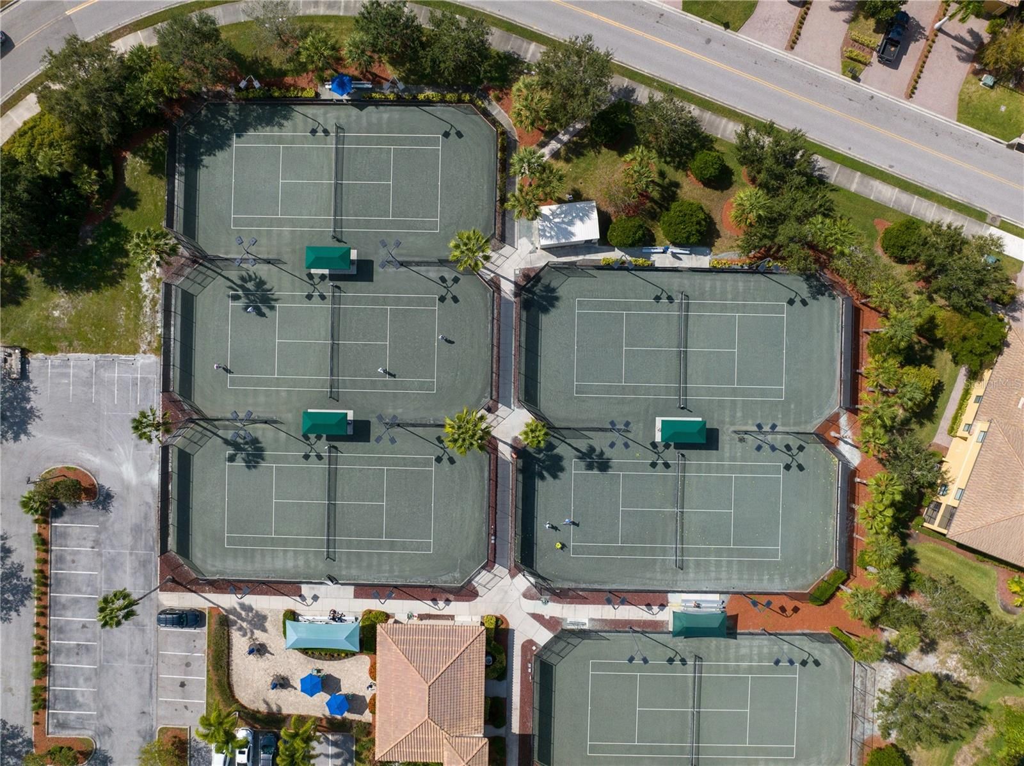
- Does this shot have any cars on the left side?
Yes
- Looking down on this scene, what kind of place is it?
sports ground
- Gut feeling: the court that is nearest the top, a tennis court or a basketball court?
tennis court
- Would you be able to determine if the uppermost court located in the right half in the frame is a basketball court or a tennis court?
tennis court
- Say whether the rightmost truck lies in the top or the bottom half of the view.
top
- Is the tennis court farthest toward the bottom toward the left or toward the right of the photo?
right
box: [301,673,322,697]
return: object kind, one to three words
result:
umbrella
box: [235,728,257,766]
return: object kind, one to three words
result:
car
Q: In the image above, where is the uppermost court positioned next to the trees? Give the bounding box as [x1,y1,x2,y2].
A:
[175,103,494,261]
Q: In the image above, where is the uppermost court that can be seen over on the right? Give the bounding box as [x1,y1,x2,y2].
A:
[520,264,839,433]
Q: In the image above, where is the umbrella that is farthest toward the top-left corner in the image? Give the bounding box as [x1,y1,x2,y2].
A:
[331,73,352,97]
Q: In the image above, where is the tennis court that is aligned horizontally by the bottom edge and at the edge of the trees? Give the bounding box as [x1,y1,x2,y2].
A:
[534,631,853,766]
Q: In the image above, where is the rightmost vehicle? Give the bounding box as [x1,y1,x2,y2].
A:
[875,10,913,67]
